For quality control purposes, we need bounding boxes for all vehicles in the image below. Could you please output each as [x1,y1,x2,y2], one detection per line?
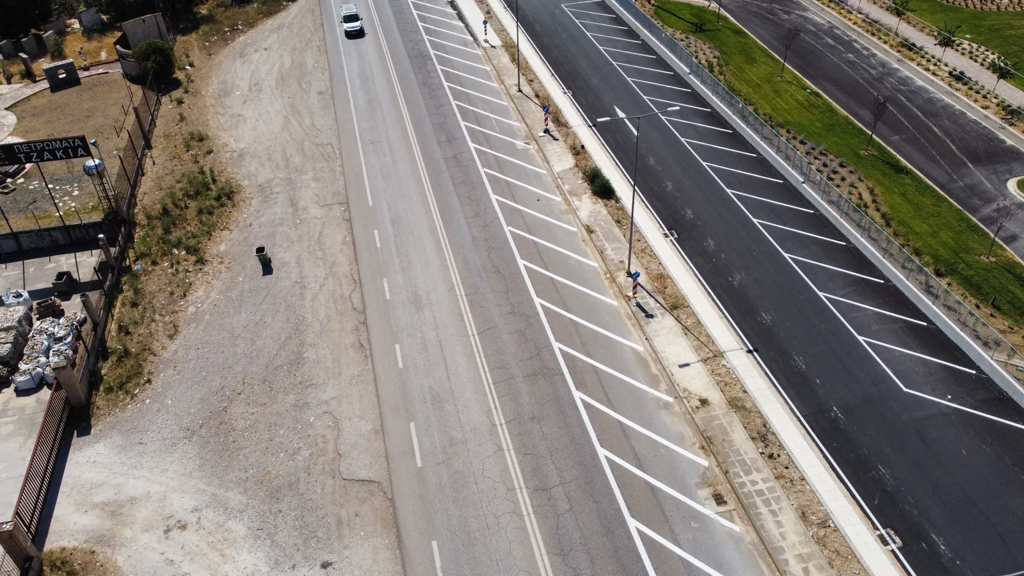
[340,3,366,40]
